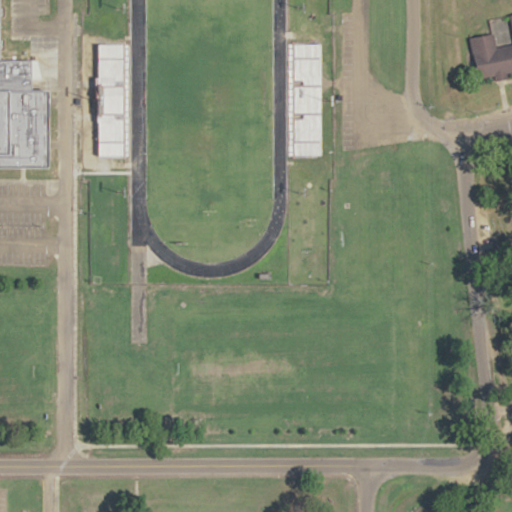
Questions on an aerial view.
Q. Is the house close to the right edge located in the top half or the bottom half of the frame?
top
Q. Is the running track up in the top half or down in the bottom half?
top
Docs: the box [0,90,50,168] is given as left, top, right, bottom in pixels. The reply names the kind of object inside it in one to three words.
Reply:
building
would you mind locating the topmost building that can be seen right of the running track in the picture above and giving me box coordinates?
[469,15,512,79]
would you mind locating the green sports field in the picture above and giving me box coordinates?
[147,0,274,262]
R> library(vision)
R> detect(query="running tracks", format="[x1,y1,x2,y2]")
[132,0,286,278]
